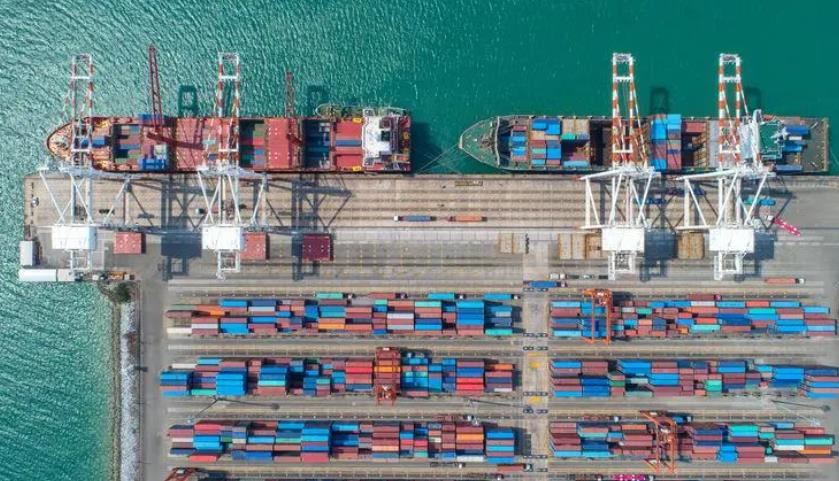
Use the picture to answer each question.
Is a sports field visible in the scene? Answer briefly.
No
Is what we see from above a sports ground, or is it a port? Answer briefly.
port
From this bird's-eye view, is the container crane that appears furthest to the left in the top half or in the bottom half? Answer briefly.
top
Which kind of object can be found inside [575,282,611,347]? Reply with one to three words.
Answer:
container crane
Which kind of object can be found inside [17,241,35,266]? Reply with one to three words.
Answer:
shed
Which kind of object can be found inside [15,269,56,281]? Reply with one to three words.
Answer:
shed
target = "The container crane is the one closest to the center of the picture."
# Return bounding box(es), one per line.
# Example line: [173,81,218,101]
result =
[374,341,405,410]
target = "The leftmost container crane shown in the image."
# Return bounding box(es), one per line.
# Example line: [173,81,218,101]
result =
[48,52,151,282]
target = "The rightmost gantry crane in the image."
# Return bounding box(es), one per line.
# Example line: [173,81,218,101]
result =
[664,52,764,282]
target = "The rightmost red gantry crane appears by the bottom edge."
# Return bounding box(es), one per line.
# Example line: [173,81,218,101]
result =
[635,404,675,475]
